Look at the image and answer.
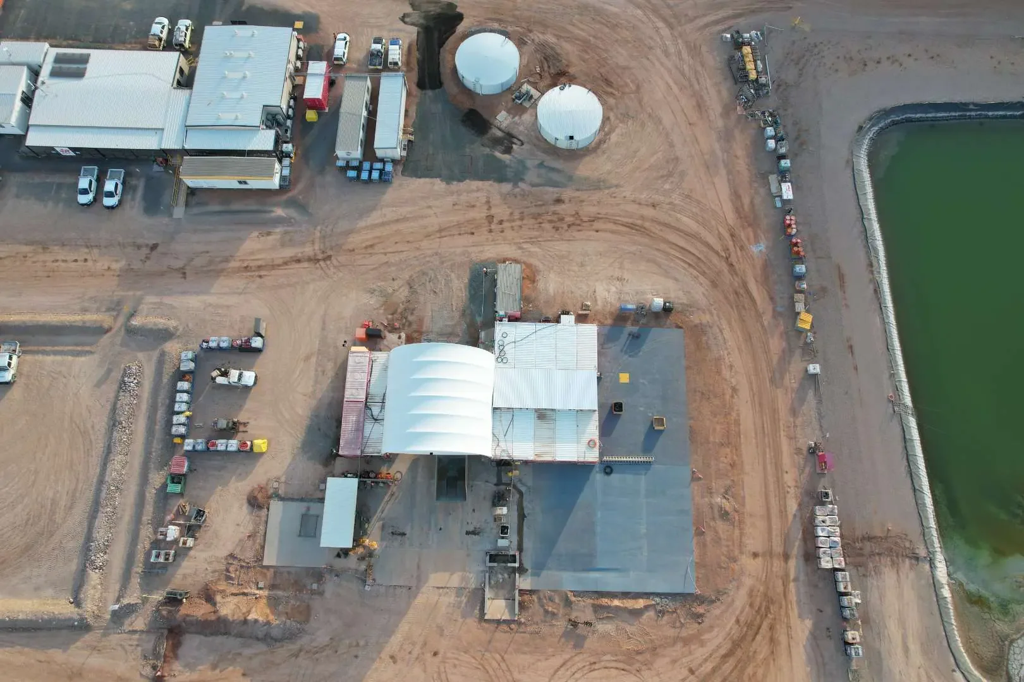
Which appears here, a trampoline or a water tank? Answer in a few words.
water tank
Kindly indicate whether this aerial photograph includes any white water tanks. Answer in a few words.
Yes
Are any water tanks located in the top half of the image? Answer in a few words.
Yes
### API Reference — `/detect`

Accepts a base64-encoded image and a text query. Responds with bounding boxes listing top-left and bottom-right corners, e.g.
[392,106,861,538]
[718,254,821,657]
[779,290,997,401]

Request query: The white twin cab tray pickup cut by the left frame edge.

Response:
[0,337,22,389]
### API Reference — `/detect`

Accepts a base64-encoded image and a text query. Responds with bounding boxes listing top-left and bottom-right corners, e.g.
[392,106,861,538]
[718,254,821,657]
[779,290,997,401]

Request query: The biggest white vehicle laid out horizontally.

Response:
[208,368,260,387]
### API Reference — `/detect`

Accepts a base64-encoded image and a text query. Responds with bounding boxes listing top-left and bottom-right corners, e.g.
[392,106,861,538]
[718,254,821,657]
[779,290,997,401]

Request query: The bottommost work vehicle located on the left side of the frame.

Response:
[209,417,249,434]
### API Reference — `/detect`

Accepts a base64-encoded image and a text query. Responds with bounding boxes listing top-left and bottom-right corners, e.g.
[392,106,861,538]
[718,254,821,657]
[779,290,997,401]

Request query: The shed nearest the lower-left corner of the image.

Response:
[322,478,361,548]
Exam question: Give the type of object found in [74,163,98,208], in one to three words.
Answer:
truck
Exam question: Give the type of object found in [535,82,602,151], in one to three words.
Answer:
water tank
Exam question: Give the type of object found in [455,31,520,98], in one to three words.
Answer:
water tank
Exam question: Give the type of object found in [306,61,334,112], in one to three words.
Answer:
shed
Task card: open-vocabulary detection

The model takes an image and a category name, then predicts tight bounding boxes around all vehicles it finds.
[171,17,193,53]
[101,166,124,211]
[208,368,260,387]
[367,35,384,73]
[146,15,171,51]
[209,417,249,434]
[0,337,22,389]
[386,37,402,72]
[74,163,98,208]
[332,32,349,68]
